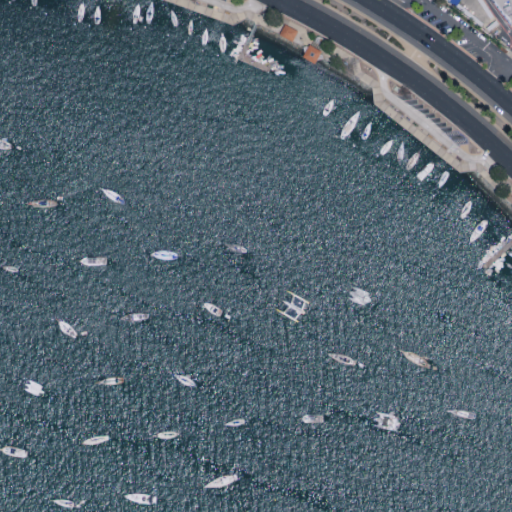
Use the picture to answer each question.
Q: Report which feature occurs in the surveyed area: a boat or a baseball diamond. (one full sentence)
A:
Looking from above, you can make out a boat.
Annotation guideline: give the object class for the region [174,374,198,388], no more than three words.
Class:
boat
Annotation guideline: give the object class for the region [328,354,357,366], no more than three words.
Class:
boat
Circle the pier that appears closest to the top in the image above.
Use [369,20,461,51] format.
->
[240,24,270,73]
